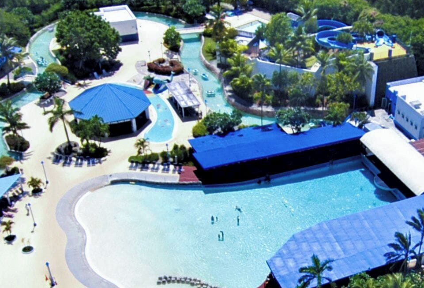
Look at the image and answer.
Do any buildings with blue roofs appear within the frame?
Yes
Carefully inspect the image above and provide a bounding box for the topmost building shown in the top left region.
[91,4,139,45]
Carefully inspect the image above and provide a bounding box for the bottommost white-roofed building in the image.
[359,125,424,198]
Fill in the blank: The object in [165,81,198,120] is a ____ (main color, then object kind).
white gazebo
